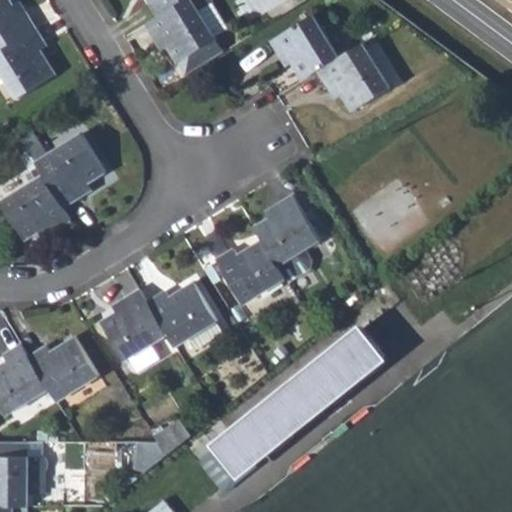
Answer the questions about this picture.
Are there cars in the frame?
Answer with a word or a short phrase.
Yes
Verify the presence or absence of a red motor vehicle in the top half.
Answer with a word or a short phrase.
Yes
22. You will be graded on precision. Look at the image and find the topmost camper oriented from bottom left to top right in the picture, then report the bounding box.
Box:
[238,48,270,72]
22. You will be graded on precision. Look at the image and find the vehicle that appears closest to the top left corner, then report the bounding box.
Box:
[84,46,100,68]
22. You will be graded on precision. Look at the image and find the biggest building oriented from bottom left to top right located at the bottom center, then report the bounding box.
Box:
[206,326,385,484]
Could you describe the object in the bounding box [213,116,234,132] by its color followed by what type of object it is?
gray car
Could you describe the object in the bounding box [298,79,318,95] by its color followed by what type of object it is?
red car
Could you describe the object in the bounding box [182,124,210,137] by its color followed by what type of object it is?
white vehicle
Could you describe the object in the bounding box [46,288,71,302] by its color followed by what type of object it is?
white car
